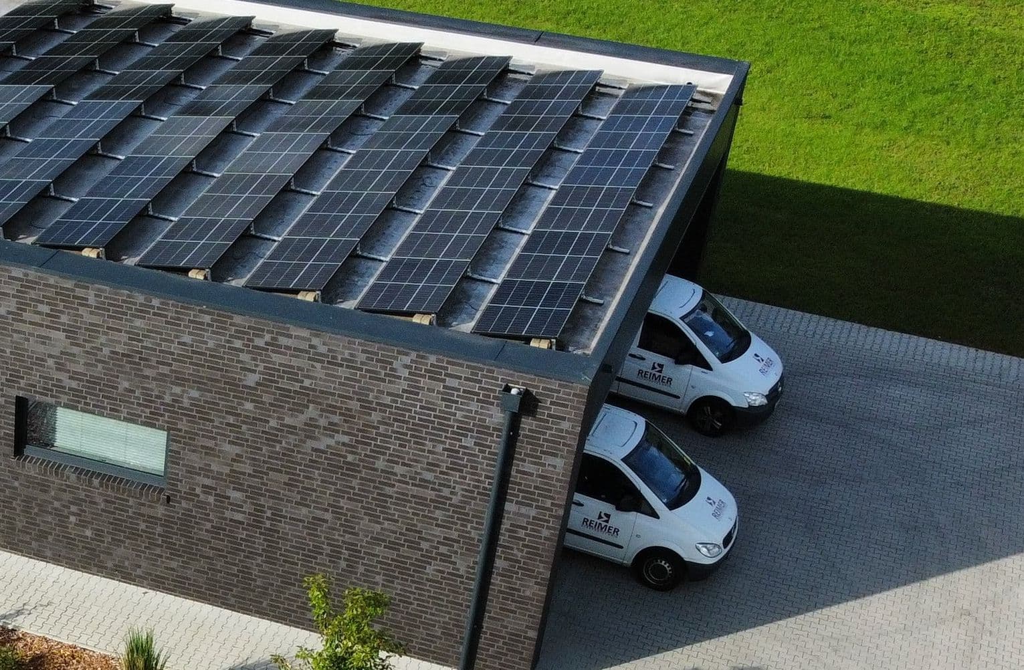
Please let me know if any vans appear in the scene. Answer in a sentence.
Yes, a van is visible in the scene.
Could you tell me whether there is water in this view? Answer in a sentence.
No, there is no water in the image.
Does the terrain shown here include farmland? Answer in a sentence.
No, farmland can't be seen anywhere here.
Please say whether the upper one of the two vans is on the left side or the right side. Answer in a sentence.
The upper one of the two vans appears in the right half of the scene.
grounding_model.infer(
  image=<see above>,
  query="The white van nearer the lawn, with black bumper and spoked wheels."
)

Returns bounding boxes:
[605,274,785,435]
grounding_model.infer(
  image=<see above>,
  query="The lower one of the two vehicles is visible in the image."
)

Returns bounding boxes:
[563,404,741,588]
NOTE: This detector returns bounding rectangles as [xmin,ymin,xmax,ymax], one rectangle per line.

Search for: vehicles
[563,404,741,588]
[605,274,785,435]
